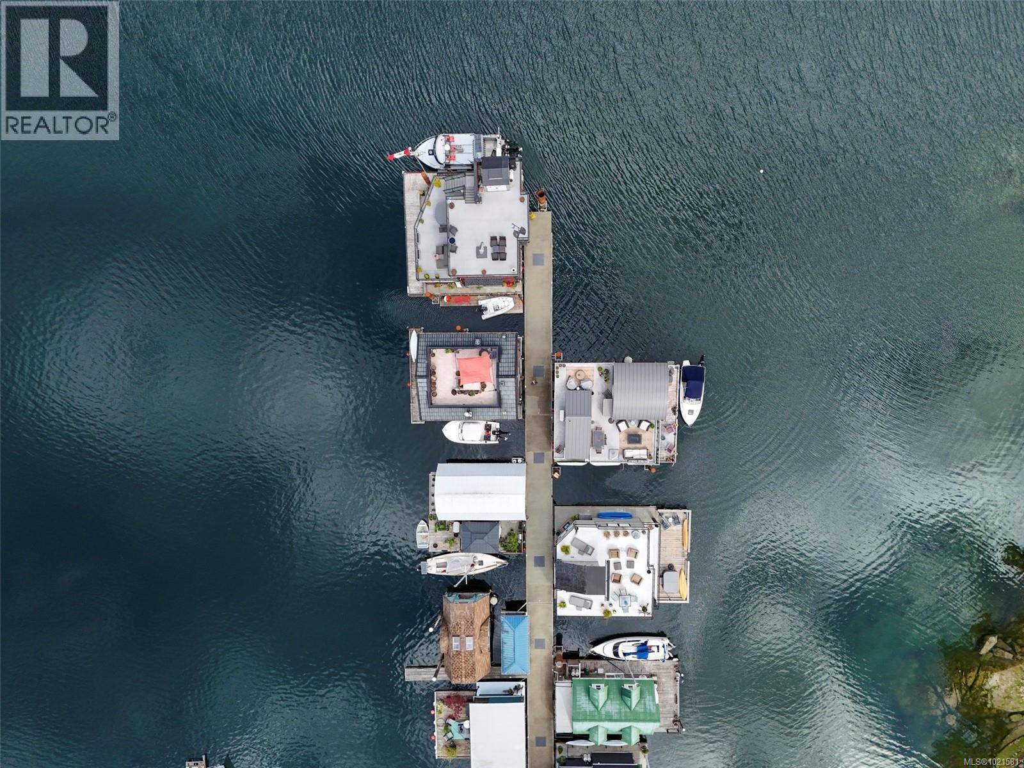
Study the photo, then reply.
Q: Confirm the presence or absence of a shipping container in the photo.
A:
No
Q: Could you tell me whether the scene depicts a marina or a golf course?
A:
marina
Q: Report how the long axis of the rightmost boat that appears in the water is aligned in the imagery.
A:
up and down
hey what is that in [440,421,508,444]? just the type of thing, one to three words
boat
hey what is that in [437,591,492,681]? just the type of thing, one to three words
house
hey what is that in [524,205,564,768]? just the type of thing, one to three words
pier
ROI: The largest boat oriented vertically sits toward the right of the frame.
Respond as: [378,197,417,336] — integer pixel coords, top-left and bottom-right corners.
[679,355,708,429]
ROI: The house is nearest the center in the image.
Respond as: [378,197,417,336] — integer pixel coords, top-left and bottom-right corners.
[409,327,523,423]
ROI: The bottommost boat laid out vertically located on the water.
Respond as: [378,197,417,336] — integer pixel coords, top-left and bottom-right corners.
[416,520,428,550]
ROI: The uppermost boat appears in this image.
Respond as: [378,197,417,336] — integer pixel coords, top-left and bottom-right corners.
[386,122,518,167]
